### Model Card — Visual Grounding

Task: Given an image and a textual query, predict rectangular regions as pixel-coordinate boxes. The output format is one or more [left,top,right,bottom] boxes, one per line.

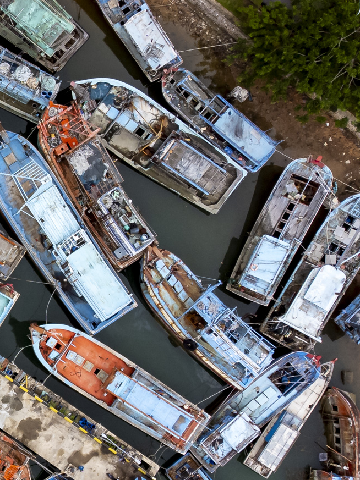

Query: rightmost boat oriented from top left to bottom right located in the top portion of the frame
[161,66,284,173]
